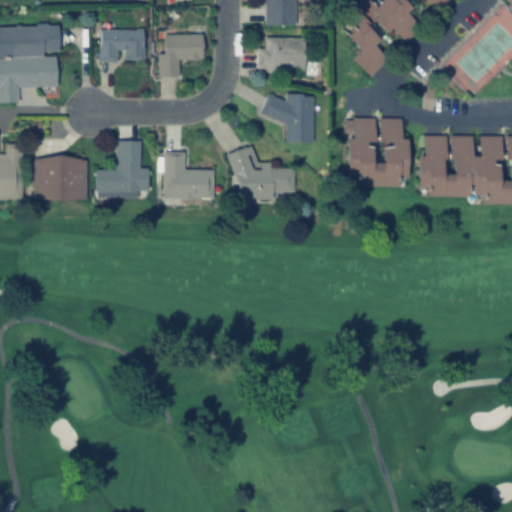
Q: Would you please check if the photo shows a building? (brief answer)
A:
Yes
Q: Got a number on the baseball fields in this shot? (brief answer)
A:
0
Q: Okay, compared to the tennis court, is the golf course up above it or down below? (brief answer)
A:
below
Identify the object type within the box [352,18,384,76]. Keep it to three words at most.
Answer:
house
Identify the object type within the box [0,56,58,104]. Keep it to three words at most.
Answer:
house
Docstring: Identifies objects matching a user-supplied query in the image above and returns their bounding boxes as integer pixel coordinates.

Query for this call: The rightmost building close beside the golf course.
[422,135,512,204]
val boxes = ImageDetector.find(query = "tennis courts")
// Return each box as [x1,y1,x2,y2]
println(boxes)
[445,10,512,96]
